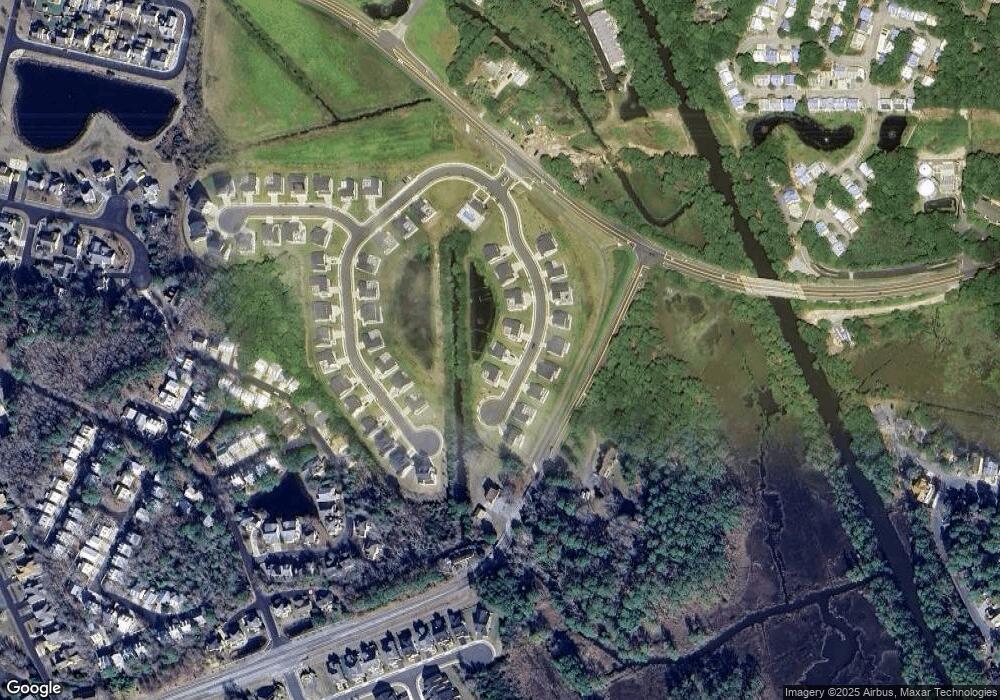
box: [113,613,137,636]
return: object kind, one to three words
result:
house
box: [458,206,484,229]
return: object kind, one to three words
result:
swimming pool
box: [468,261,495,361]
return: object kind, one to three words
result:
pond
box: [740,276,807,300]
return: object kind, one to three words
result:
bridge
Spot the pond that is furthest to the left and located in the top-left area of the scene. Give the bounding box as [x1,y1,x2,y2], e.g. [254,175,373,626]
[14,59,180,153]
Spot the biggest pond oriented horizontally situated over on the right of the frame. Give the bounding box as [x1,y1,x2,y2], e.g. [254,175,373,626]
[747,112,854,150]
